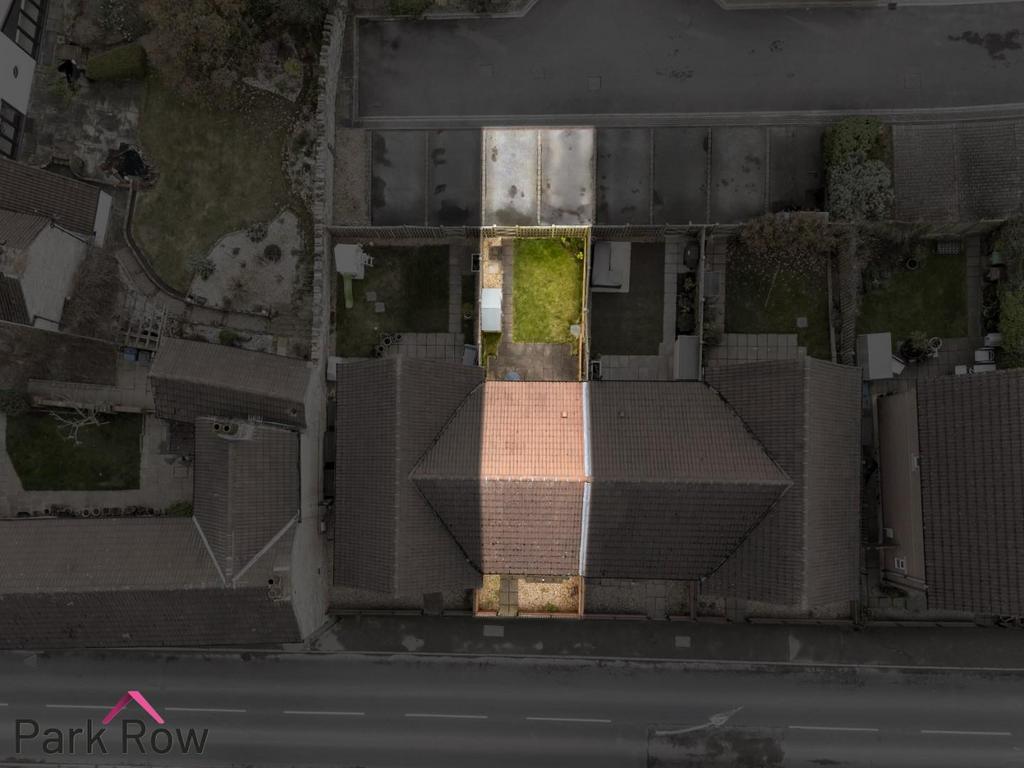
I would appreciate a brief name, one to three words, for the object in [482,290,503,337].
shed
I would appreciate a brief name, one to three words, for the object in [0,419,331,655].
house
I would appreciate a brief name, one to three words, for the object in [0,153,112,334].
shed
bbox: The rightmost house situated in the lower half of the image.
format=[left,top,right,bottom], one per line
[879,368,1024,616]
